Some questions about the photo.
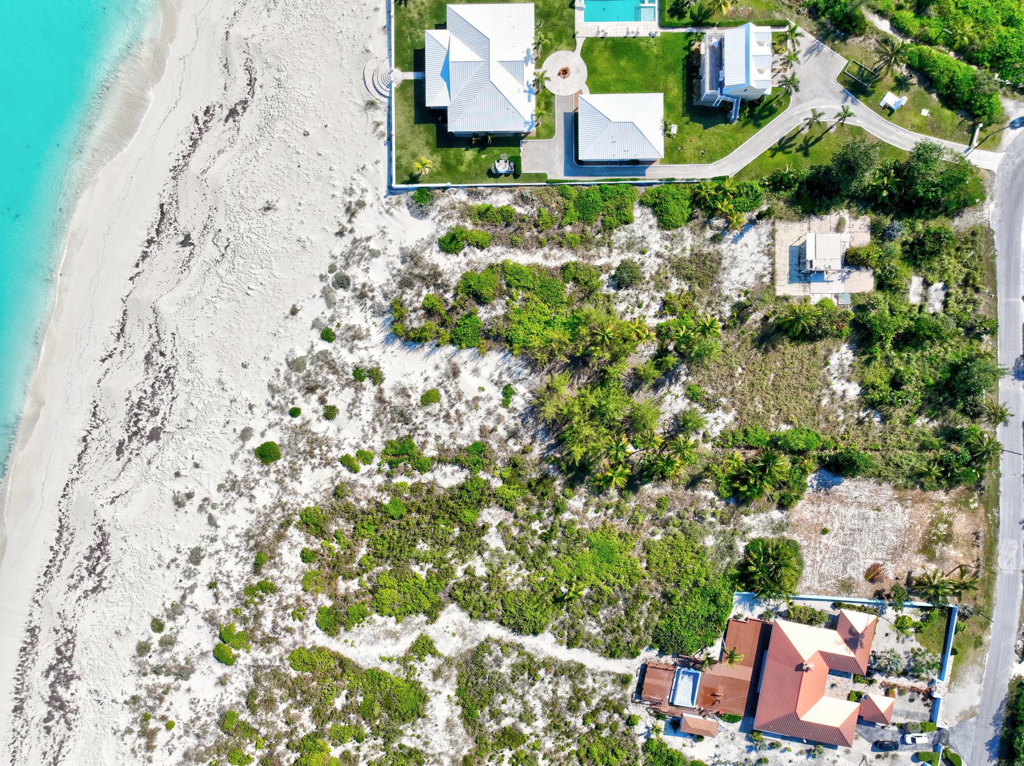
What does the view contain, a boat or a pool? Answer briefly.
pool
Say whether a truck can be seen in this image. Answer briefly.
No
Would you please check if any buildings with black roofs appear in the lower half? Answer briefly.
No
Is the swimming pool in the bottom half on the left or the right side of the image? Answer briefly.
right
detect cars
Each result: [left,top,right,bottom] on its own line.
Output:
[878,741,901,755]
[906,734,930,748]
[1012,115,1024,129]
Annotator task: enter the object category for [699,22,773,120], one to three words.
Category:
house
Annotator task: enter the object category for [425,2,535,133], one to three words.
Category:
house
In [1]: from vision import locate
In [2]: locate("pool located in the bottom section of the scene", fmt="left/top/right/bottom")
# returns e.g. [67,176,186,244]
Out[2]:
[670,667,701,708]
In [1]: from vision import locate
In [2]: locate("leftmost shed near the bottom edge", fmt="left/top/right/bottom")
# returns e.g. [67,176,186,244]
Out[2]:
[680,713,718,738]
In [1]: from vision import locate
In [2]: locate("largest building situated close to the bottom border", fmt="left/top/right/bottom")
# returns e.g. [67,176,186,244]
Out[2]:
[753,609,878,748]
